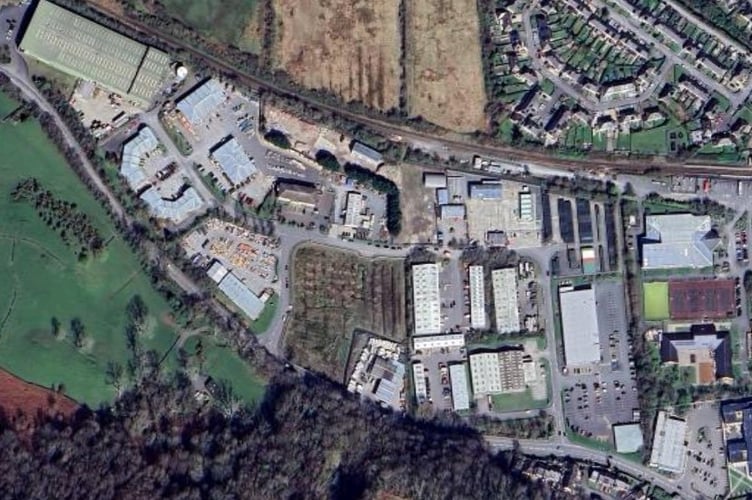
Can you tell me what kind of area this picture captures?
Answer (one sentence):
It's a residential area.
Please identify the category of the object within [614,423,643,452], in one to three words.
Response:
building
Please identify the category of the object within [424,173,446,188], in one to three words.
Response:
shed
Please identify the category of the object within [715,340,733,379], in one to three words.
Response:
building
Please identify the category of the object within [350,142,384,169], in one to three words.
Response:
barn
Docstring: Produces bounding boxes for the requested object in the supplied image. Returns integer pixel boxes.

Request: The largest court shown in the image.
[669,278,737,319]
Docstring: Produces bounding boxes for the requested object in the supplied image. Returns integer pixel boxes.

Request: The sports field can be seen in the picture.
[645,283,670,319]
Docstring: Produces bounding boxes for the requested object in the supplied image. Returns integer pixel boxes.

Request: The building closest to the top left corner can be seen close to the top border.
[19,0,171,104]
